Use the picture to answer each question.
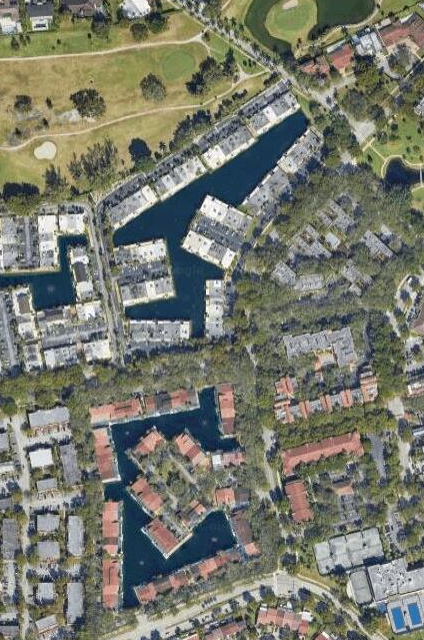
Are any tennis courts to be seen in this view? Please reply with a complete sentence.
Yes, there's a tennis court down there.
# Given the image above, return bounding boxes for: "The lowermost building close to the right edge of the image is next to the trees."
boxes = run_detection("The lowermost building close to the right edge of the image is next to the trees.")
[367,557,424,600]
